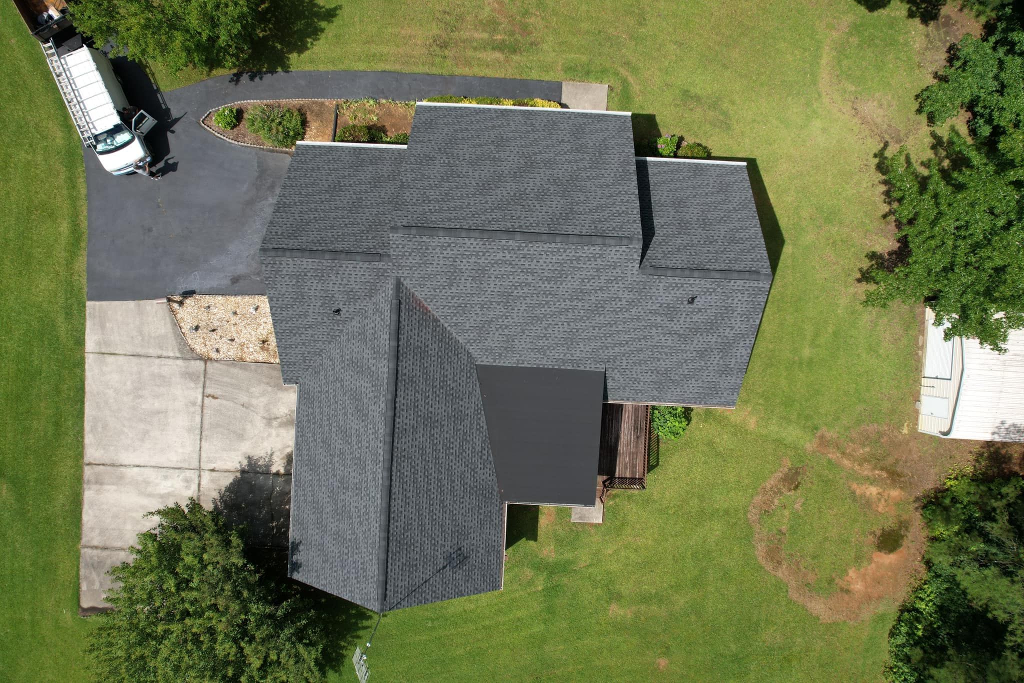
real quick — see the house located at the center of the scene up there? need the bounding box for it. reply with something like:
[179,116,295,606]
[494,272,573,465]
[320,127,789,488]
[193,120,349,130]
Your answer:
[261,99,773,612]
